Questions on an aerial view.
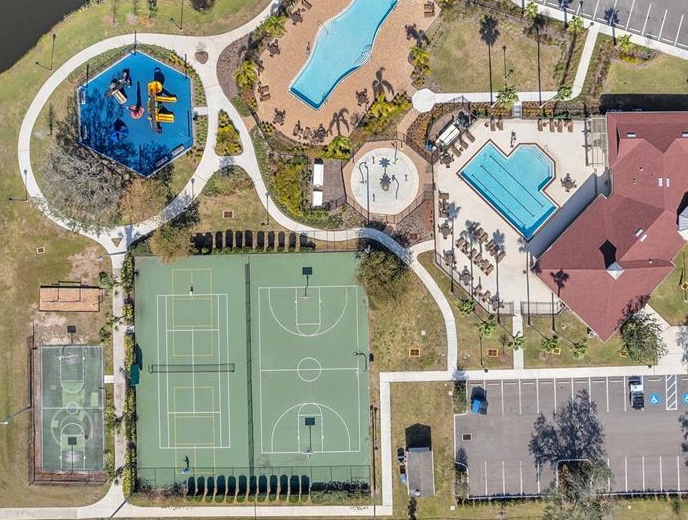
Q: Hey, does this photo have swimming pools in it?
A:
Yes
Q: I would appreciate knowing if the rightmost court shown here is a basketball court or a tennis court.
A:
basketball court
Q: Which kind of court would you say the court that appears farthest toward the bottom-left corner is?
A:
basketball court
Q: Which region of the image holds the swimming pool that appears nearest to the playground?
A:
top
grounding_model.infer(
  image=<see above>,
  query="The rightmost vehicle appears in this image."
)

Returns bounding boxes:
[628,382,645,412]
